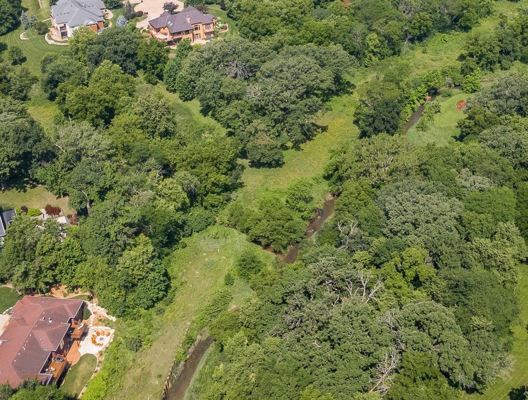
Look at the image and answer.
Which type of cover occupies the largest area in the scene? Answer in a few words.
trees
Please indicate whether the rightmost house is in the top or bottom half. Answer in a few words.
top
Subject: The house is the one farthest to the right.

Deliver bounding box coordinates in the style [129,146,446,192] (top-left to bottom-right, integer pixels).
[151,4,216,49]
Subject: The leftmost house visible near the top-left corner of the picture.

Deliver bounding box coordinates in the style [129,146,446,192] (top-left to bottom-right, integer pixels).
[51,0,106,38]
